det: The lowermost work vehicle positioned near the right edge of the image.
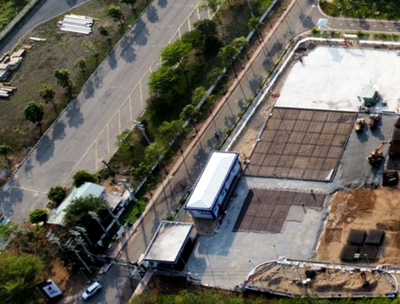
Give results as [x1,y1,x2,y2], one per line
[363,137,400,165]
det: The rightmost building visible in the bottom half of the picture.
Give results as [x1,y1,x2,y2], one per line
[183,149,244,221]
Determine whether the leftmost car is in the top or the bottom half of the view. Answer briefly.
bottom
